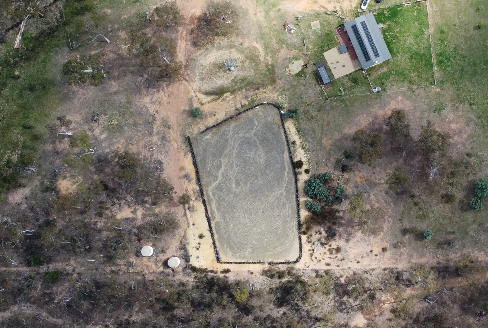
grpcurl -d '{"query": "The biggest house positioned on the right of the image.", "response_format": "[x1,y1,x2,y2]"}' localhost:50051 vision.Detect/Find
[335,13,392,69]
